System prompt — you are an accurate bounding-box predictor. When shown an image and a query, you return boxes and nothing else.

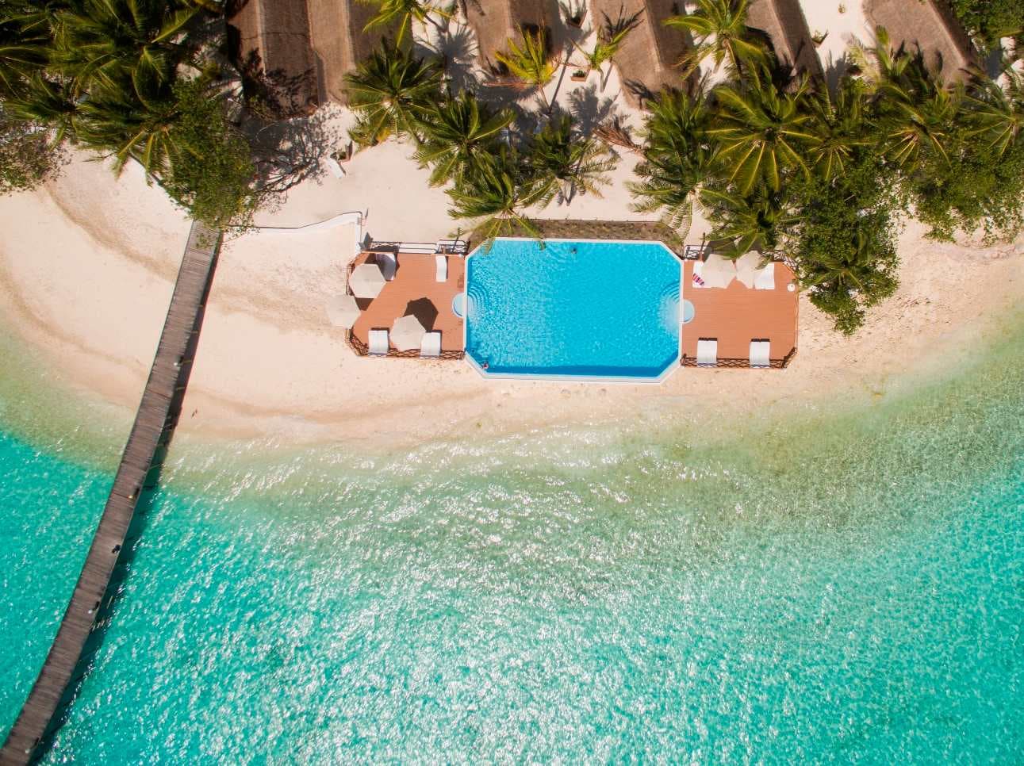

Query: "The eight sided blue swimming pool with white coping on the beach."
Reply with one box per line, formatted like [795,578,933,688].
[452,238,694,385]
